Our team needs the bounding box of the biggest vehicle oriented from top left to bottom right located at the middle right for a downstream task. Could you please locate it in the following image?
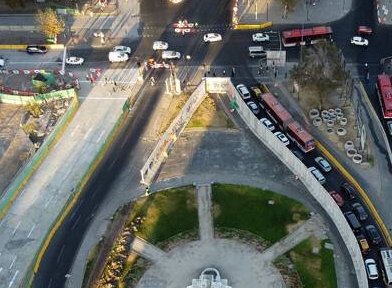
[254,89,317,156]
